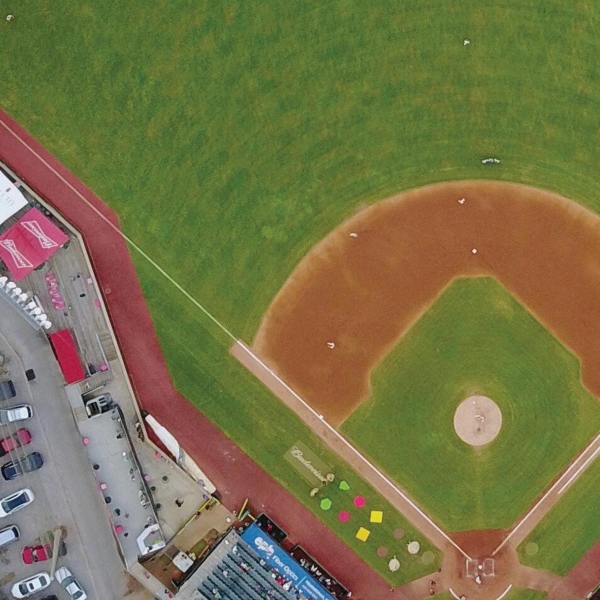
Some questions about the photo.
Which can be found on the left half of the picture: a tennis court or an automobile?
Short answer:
automobile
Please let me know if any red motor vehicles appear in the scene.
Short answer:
Yes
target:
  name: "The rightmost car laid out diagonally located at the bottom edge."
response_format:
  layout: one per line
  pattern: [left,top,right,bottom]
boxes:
[54,563,87,600]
